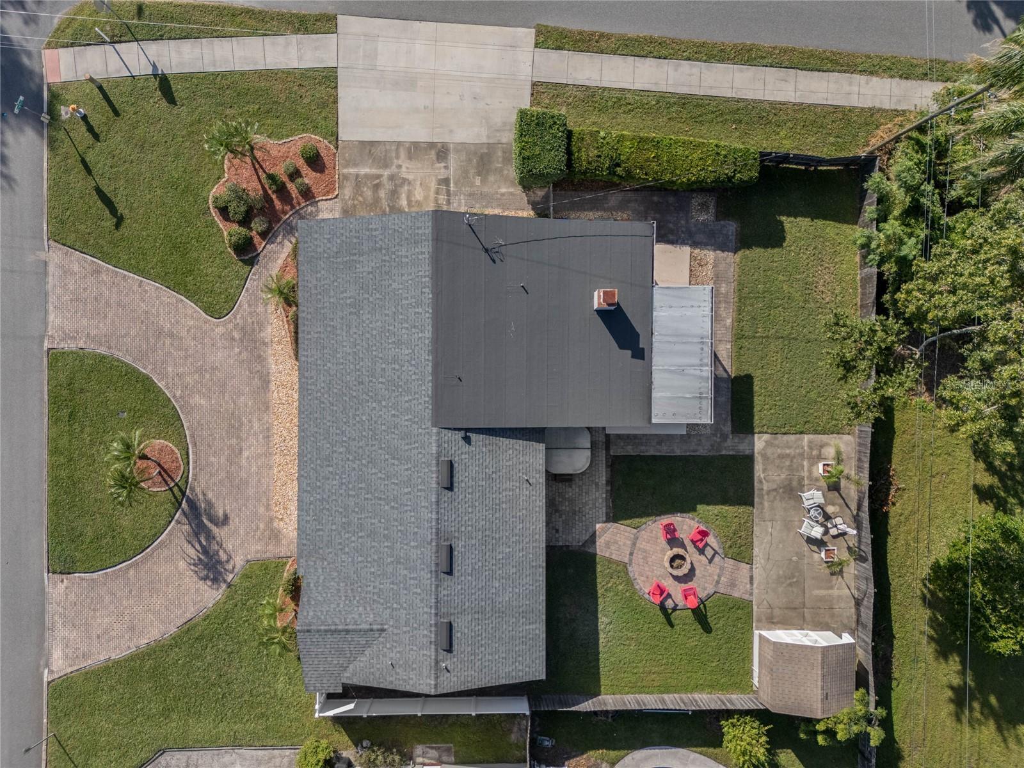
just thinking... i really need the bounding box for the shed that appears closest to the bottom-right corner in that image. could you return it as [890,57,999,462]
[753,627,856,718]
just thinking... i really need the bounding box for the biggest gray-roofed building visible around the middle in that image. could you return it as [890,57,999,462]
[295,211,713,694]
